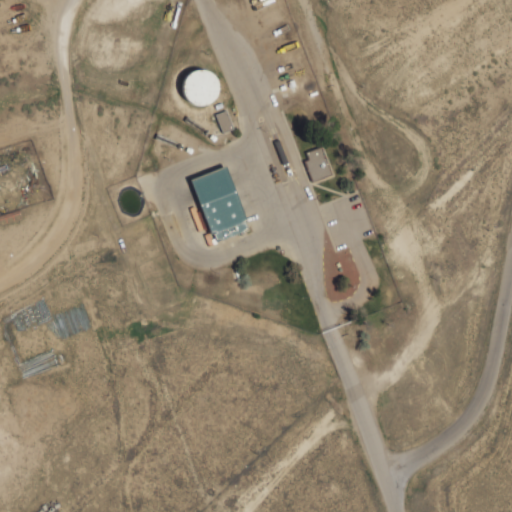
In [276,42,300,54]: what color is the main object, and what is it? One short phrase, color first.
yellow vehicle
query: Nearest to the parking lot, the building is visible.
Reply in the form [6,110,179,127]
[306,146,334,182]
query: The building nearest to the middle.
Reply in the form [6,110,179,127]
[191,166,246,238]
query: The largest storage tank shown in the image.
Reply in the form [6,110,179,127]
[183,68,221,107]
